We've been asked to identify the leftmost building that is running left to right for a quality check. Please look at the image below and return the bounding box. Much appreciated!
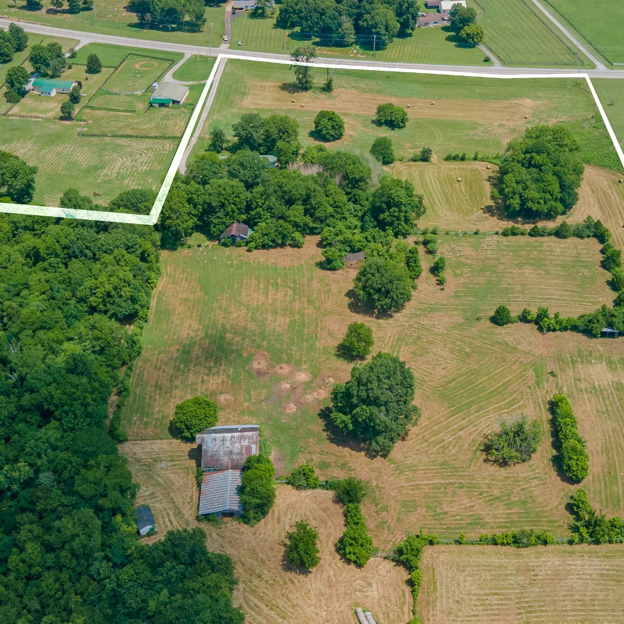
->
[31,77,78,96]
